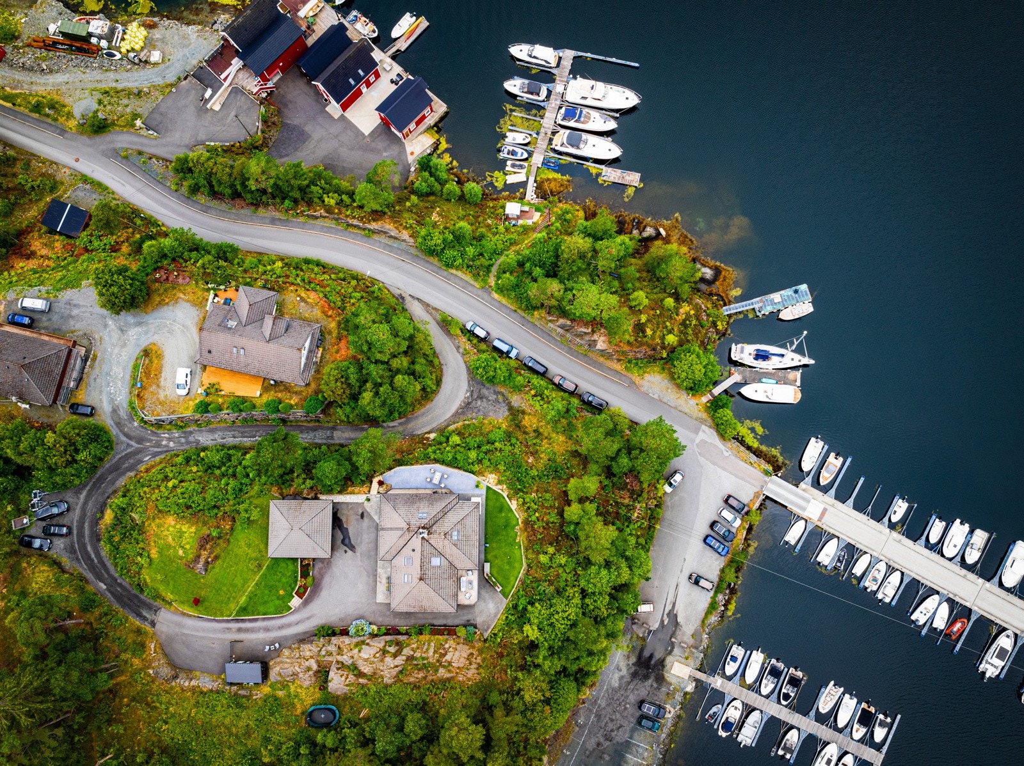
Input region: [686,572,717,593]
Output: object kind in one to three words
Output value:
car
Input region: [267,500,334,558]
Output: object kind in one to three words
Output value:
building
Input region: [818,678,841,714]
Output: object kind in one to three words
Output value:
boat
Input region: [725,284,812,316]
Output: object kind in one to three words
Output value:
pier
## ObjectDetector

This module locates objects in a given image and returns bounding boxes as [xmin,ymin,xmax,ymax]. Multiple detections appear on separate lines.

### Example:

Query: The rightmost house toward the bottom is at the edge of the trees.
[378,489,481,613]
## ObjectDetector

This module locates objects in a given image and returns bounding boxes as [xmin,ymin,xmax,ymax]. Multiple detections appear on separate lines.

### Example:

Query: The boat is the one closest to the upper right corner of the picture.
[778,299,815,318]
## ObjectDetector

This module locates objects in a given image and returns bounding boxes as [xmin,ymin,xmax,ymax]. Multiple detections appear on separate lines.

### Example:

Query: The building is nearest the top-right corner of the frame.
[505,202,541,225]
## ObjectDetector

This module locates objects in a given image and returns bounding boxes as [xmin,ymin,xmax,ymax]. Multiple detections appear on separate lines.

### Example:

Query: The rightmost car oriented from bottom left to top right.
[662,467,687,495]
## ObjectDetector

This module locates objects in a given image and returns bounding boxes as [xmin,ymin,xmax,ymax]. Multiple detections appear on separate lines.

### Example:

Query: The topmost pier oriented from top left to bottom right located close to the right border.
[763,446,1024,690]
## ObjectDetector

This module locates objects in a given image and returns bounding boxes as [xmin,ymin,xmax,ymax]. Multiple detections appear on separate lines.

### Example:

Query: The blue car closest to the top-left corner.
[5,312,36,327]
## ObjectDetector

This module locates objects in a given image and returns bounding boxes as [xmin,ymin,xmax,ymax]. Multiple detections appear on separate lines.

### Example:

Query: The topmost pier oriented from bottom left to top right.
[388,16,430,54]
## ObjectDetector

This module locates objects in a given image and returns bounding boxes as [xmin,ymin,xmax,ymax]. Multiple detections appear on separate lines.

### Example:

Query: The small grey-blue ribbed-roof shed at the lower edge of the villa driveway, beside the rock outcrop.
[226,662,265,683]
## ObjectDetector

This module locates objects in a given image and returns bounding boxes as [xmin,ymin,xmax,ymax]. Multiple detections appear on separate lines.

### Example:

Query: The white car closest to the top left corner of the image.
[18,297,51,312]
